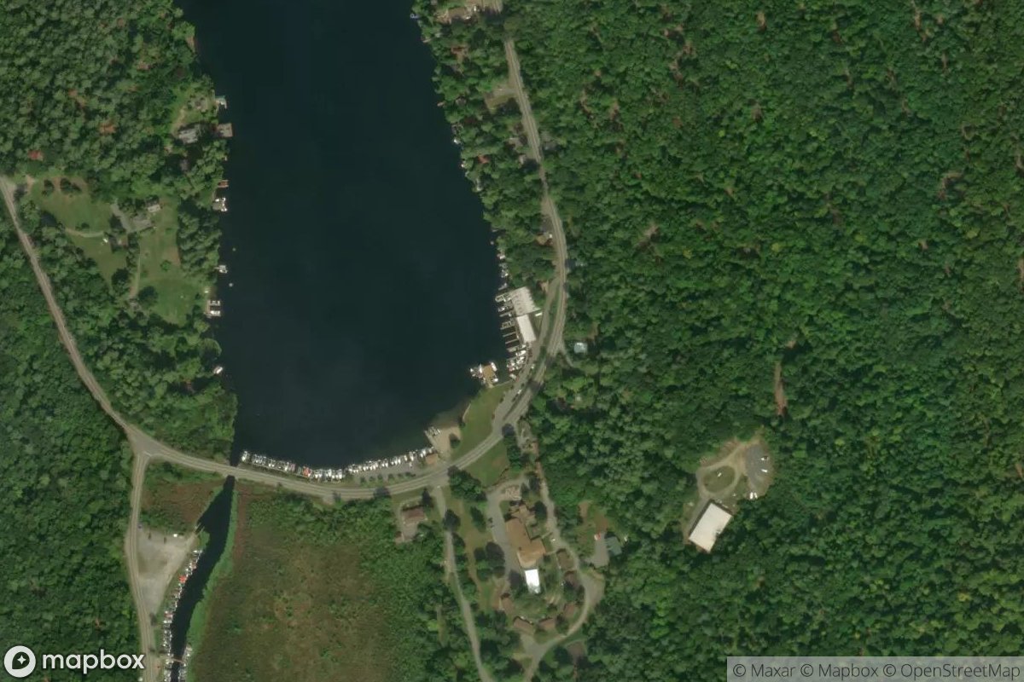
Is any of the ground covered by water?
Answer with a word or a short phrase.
Yes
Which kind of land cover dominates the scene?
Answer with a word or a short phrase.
trees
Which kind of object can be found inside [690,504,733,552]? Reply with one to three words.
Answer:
barn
